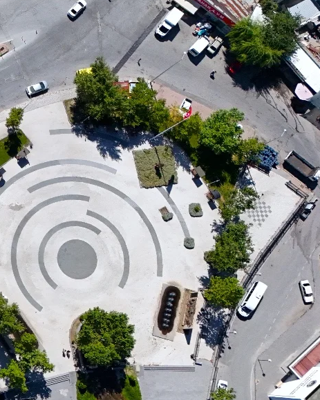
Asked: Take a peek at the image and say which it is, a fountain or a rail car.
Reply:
fountain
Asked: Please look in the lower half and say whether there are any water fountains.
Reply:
Yes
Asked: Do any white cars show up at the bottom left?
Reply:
No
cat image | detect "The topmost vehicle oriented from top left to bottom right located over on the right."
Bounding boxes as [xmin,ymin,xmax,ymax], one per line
[284,148,320,182]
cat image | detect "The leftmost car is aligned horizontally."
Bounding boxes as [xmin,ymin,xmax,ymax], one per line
[25,83,48,96]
